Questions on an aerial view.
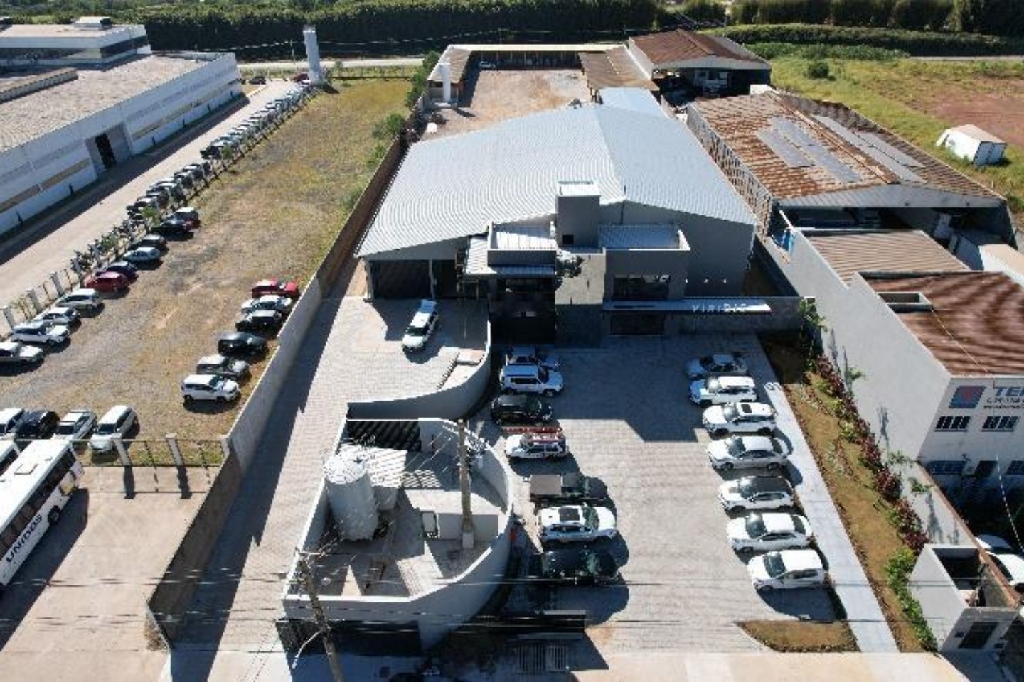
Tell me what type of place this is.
industrial area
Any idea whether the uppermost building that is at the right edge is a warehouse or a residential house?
warehouse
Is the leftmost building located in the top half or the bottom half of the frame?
top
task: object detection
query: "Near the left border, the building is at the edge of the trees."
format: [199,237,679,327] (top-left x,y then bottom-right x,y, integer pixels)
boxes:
[0,14,241,237]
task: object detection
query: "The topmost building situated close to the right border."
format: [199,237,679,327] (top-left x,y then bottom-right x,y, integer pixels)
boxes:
[686,81,1007,246]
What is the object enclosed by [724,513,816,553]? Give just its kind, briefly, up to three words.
car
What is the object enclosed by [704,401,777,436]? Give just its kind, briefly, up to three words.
car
